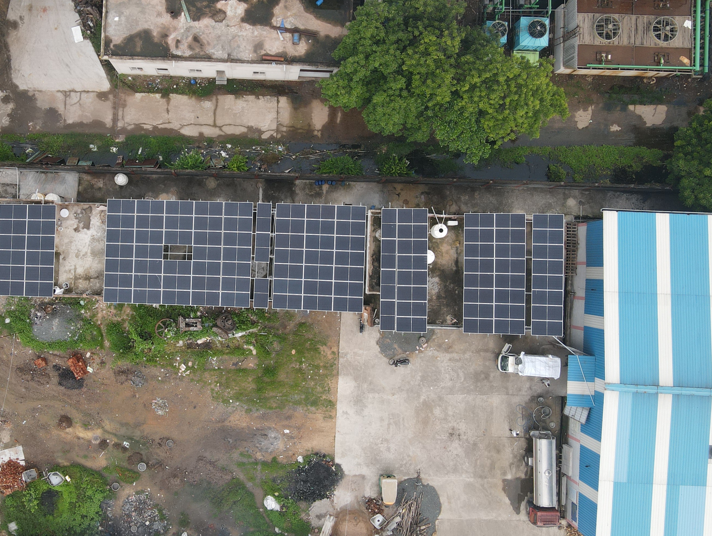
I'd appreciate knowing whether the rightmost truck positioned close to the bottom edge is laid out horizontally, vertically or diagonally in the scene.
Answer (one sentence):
Seen from above, the rightmost truck positioned close to the bottom edge lies vertically.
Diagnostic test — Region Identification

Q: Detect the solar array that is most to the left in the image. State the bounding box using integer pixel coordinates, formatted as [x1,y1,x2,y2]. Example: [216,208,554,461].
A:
[0,201,63,301]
